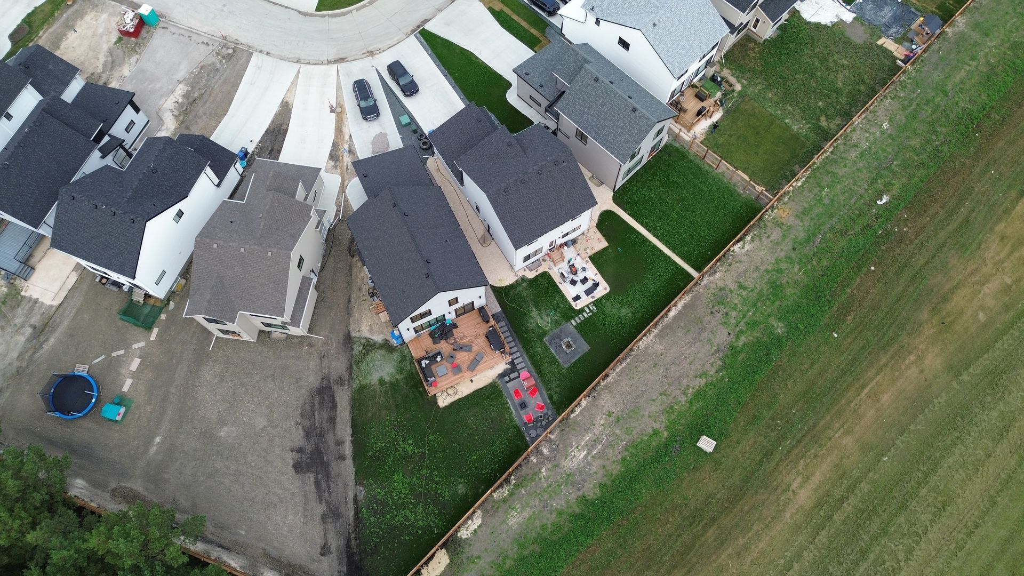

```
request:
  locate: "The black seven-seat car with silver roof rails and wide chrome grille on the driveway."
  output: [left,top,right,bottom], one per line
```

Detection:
[352,76,378,119]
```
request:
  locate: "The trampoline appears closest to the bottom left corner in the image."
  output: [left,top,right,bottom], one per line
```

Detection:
[37,371,105,421]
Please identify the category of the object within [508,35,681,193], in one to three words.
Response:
house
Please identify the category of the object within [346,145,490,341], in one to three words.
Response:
house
